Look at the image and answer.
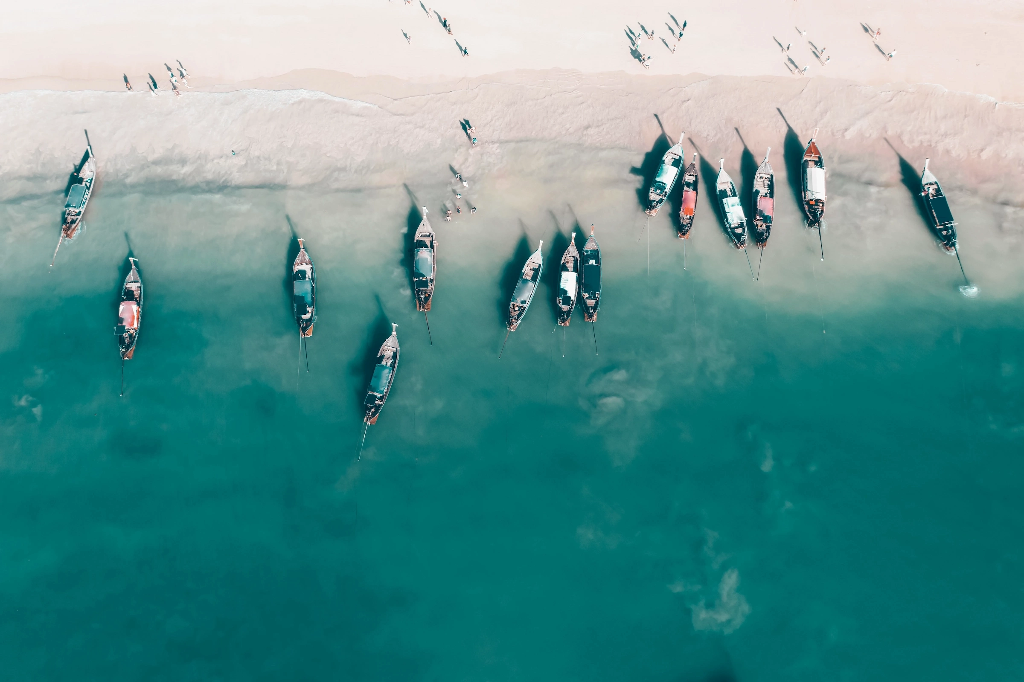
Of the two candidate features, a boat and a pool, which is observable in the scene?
boat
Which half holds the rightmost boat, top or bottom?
top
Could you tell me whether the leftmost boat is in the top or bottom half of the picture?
top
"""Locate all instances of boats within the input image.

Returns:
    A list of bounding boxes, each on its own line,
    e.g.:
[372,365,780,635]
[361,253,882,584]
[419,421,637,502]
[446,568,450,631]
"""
[714,158,755,280]
[919,157,968,285]
[50,146,99,267]
[357,322,401,461]
[637,131,685,242]
[557,232,580,357]
[580,223,602,355]
[113,257,145,397]
[678,153,699,251]
[293,238,318,372]
[751,146,775,281]
[800,128,826,260]
[413,205,437,346]
[498,240,543,359]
